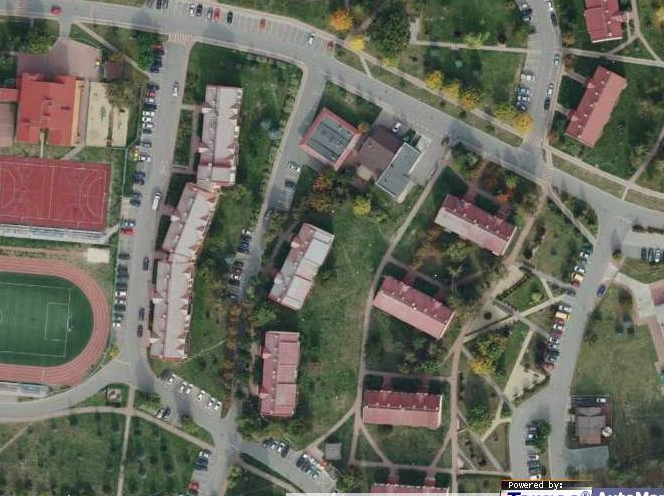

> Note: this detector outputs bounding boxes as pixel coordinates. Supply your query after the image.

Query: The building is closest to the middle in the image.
[270,225,335,310]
